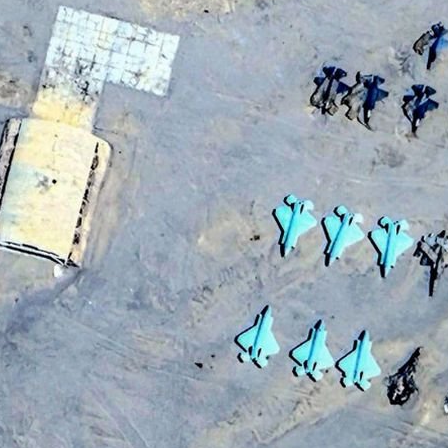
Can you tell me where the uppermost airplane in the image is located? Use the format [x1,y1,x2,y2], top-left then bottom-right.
[414,21,448,68]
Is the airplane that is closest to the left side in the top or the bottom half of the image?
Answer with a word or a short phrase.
bottom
